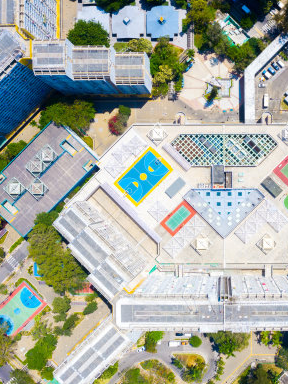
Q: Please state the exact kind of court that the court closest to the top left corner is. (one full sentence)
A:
The court closest to the top left corner in the image is a basketball court.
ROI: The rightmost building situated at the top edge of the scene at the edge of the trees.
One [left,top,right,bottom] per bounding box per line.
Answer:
[220,15,250,48]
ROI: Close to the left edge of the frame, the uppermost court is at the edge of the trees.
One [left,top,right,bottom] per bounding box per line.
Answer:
[0,281,47,337]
